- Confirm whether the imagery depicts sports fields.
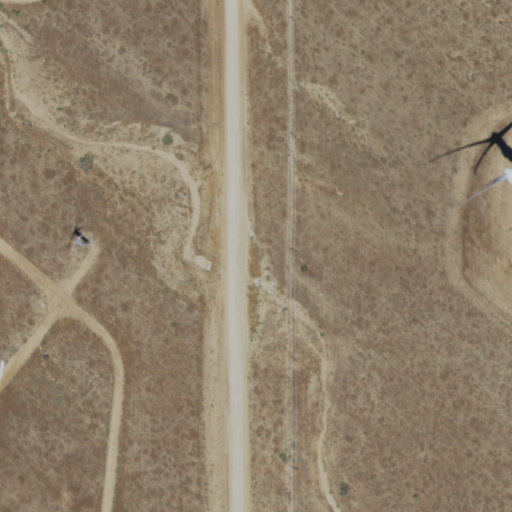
No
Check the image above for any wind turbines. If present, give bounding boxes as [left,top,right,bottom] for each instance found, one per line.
[446,170,512,216]
[70,234,91,256]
